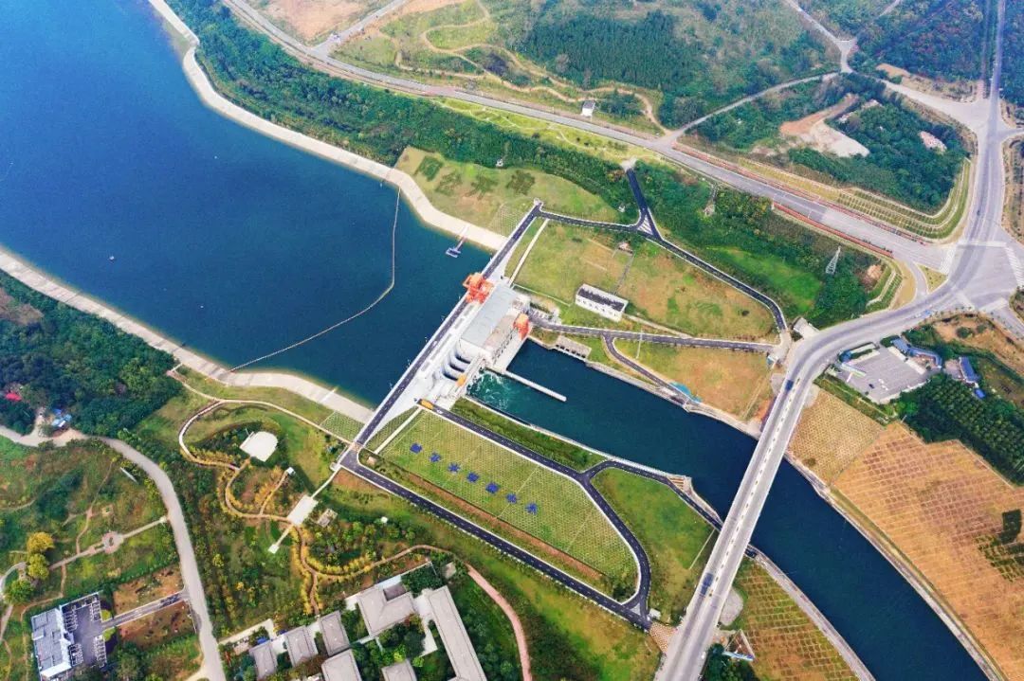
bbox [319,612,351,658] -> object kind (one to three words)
building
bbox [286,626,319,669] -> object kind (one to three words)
building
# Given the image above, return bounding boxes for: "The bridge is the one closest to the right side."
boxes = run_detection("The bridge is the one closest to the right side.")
[654,299,934,681]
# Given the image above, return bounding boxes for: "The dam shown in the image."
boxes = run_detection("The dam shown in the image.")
[362,233,526,430]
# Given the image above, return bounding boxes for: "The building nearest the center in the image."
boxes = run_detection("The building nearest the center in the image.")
[458,280,540,373]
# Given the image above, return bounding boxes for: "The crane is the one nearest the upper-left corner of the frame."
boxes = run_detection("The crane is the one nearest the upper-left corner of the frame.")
[457,271,493,307]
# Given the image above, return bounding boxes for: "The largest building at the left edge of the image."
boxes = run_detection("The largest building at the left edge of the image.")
[30,608,72,676]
